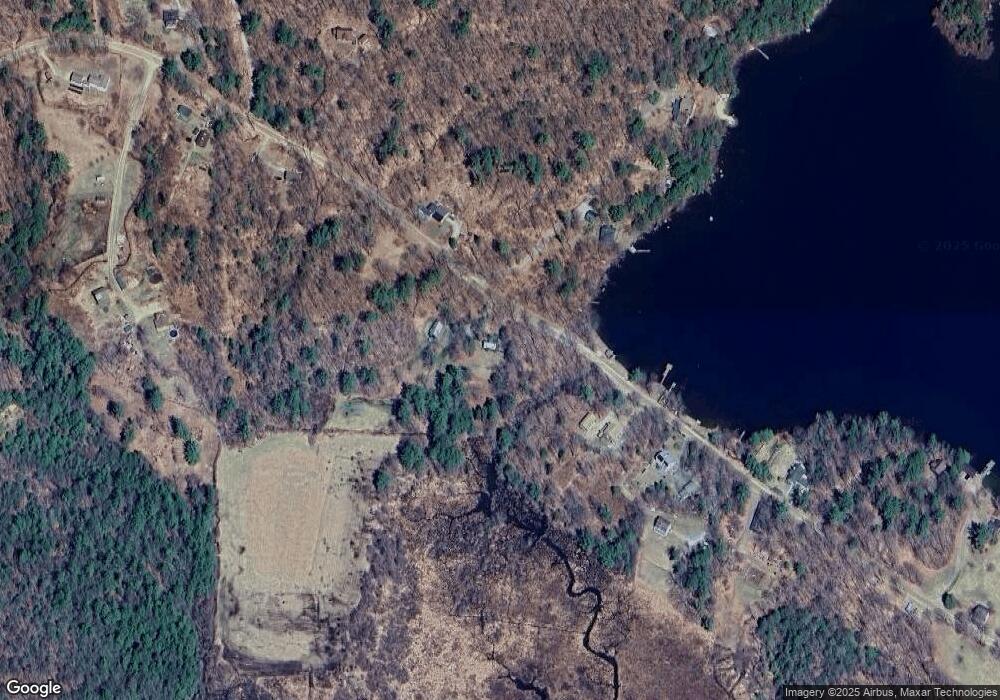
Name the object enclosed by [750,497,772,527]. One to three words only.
building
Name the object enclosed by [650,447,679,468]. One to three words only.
house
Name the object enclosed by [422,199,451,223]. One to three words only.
house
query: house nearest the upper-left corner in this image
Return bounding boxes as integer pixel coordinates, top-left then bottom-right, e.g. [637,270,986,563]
[72,70,108,90]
